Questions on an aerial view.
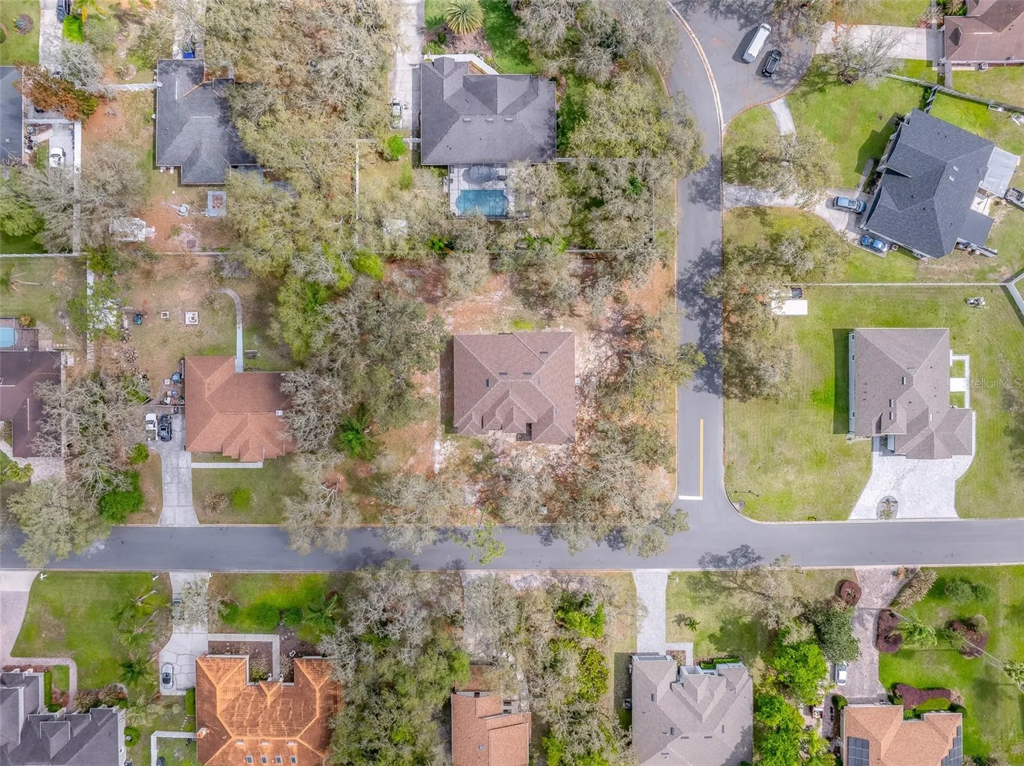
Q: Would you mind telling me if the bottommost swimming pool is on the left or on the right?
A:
left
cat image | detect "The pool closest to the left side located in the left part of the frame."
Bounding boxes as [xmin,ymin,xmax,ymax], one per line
[0,322,21,351]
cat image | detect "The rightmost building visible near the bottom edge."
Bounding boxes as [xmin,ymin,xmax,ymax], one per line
[837,701,962,766]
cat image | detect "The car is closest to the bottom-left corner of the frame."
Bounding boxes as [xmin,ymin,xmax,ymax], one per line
[160,661,176,689]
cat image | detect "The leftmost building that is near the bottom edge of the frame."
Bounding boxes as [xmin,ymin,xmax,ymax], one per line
[0,669,125,766]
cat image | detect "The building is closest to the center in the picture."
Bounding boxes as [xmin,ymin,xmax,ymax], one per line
[453,332,576,444]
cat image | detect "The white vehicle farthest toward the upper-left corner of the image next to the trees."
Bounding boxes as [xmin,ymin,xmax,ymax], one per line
[49,148,67,175]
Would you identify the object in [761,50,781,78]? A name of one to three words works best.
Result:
car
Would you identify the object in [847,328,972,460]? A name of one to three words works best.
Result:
house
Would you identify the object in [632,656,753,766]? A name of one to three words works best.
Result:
house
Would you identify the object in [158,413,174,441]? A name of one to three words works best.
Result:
car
